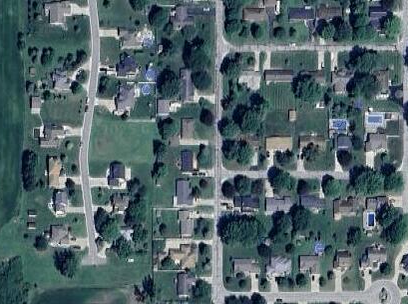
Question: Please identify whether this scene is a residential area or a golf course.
residential area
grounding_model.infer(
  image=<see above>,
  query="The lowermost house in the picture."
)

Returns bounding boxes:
[178,274,194,298]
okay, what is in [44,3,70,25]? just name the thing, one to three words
house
